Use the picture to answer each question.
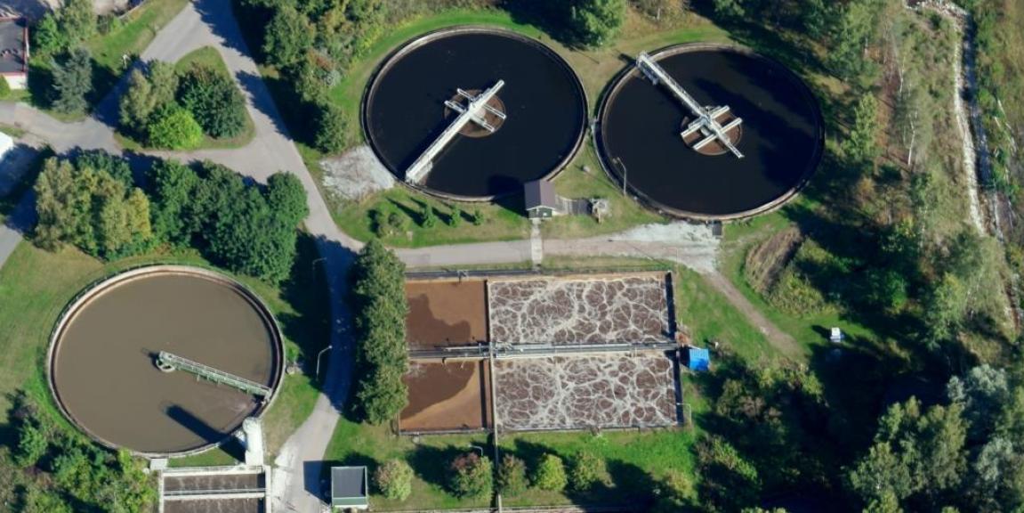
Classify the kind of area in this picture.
industrial area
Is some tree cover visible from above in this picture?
Yes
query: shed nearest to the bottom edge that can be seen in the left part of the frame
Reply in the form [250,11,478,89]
[330,468,367,513]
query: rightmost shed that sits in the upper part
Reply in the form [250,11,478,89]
[524,172,556,225]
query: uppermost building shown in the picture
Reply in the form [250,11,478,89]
[0,16,33,89]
